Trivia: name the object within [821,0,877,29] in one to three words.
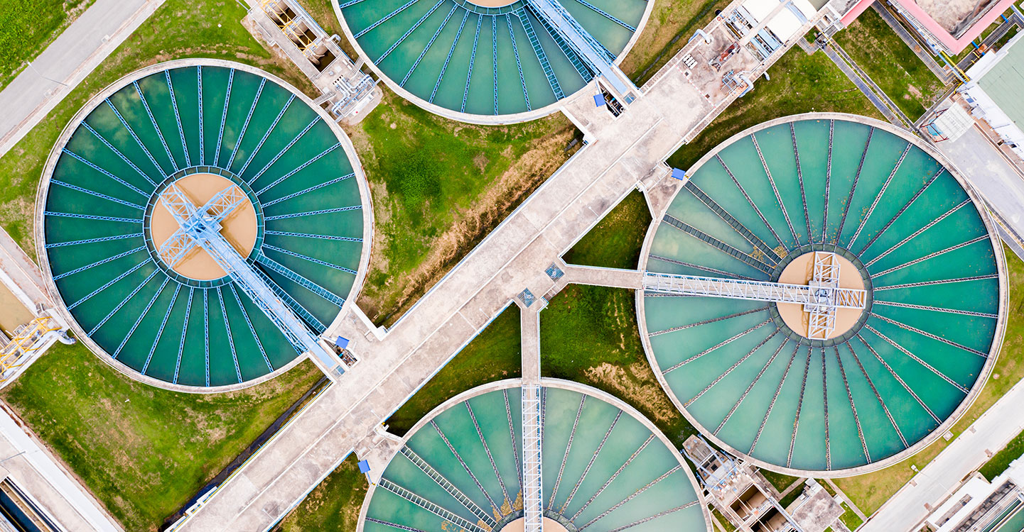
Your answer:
building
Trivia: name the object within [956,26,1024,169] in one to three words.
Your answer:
building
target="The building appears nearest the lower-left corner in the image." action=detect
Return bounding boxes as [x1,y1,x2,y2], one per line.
[0,404,117,532]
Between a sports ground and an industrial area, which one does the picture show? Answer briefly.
industrial area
